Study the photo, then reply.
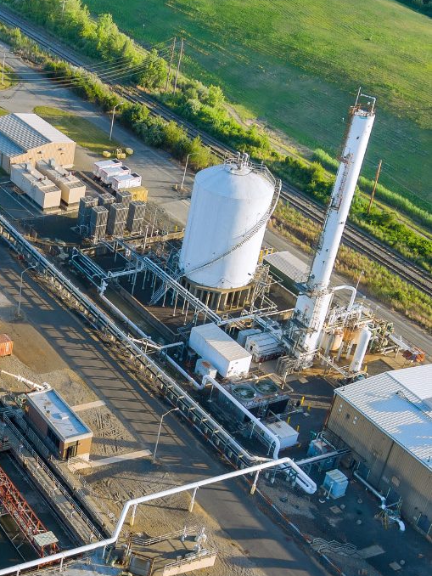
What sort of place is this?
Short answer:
industrial area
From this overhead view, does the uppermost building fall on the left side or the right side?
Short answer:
left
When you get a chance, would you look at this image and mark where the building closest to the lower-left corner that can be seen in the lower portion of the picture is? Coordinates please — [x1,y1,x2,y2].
[27,388,95,466]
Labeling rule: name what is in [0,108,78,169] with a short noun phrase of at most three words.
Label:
building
